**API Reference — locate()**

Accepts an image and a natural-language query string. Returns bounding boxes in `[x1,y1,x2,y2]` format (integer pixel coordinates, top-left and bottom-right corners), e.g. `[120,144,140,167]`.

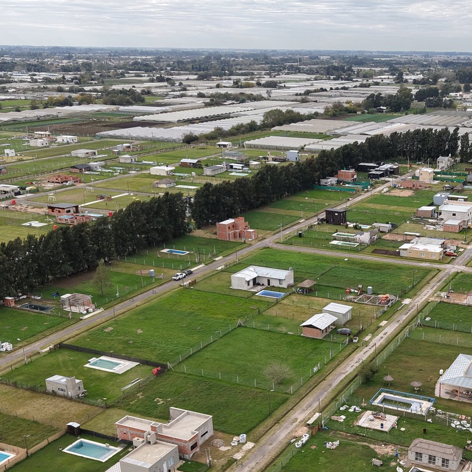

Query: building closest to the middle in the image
[216,217,249,239]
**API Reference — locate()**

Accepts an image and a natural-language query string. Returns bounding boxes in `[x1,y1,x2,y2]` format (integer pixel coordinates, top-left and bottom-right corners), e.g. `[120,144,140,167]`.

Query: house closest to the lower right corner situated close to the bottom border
[405,435,466,472]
